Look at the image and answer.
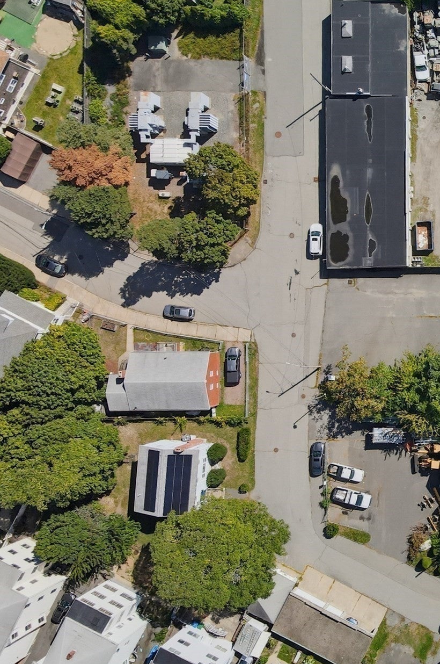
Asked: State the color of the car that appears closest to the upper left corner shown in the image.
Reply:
black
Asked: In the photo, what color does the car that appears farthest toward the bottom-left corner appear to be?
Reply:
black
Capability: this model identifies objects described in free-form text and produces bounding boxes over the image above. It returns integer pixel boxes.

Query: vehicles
[309,443,325,476]
[326,462,365,482]
[33,254,69,277]
[223,347,243,384]
[307,222,324,257]
[52,592,76,623]
[411,39,431,86]
[411,444,440,465]
[163,304,196,320]
[331,488,371,508]
[236,653,254,664]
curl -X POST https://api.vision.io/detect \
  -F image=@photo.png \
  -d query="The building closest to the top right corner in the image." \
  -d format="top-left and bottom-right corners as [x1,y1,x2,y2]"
[331,0,411,100]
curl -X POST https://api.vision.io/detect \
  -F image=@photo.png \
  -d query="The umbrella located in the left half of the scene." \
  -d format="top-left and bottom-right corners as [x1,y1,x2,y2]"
[18,52,32,66]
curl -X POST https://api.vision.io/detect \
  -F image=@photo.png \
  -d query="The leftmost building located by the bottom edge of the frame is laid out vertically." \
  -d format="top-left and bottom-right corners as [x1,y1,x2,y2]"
[0,528,60,664]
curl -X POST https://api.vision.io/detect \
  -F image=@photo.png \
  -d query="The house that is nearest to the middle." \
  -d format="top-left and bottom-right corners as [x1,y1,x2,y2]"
[106,343,218,412]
